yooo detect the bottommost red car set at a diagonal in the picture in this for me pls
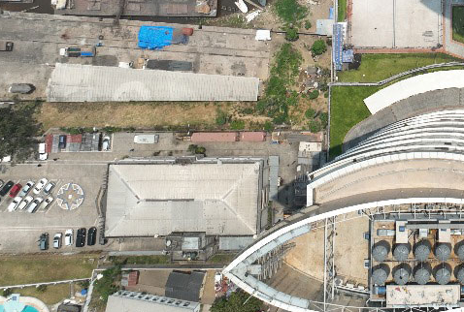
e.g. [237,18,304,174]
[8,182,24,198]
